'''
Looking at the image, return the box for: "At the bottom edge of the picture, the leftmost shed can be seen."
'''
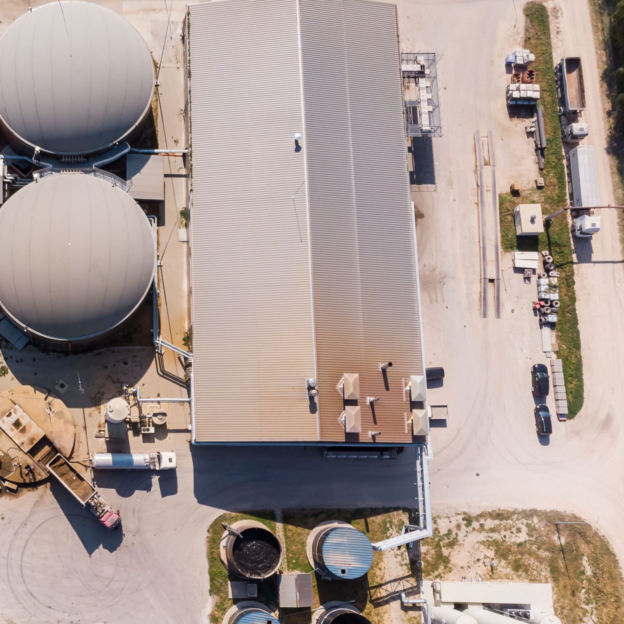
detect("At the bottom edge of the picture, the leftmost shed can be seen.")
[276,573,313,608]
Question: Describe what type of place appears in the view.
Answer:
industrial area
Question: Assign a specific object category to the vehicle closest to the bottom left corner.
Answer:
truck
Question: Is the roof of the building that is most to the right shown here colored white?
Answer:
Yes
